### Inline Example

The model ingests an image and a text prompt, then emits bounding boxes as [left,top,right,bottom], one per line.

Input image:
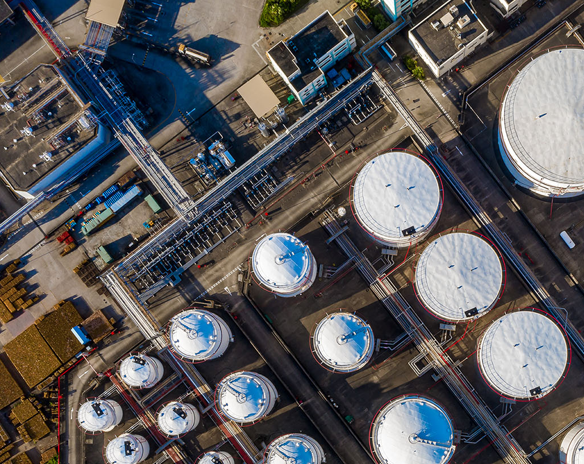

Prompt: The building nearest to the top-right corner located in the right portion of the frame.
[486,0,524,21]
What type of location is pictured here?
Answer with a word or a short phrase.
industrial area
